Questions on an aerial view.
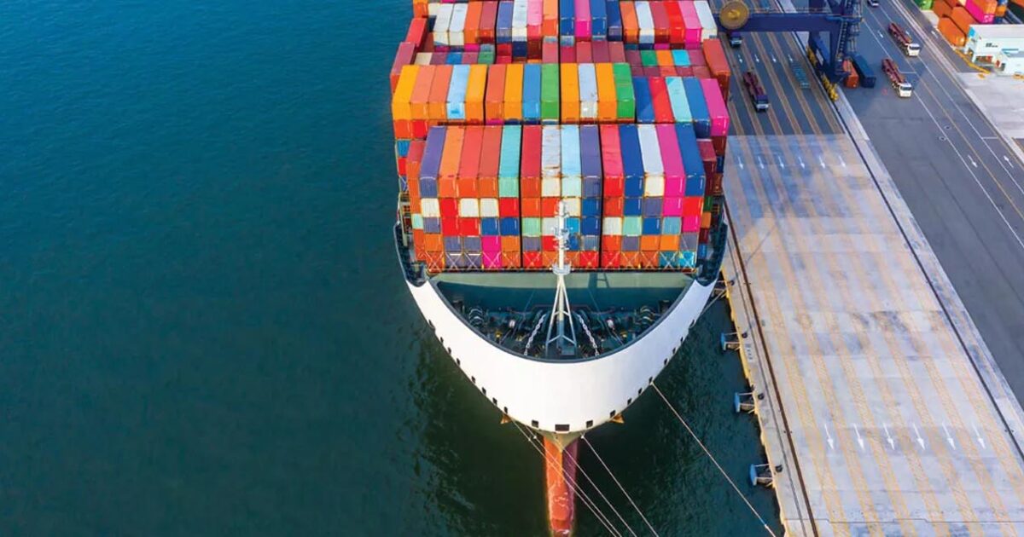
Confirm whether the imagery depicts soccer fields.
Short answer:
No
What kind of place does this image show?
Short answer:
port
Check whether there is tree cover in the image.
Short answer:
No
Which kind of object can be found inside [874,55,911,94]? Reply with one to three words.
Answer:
truck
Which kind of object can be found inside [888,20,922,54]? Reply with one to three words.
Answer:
truck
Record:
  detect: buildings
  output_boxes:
[964,16,1024,75]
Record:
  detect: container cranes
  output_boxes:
[699,0,864,102]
